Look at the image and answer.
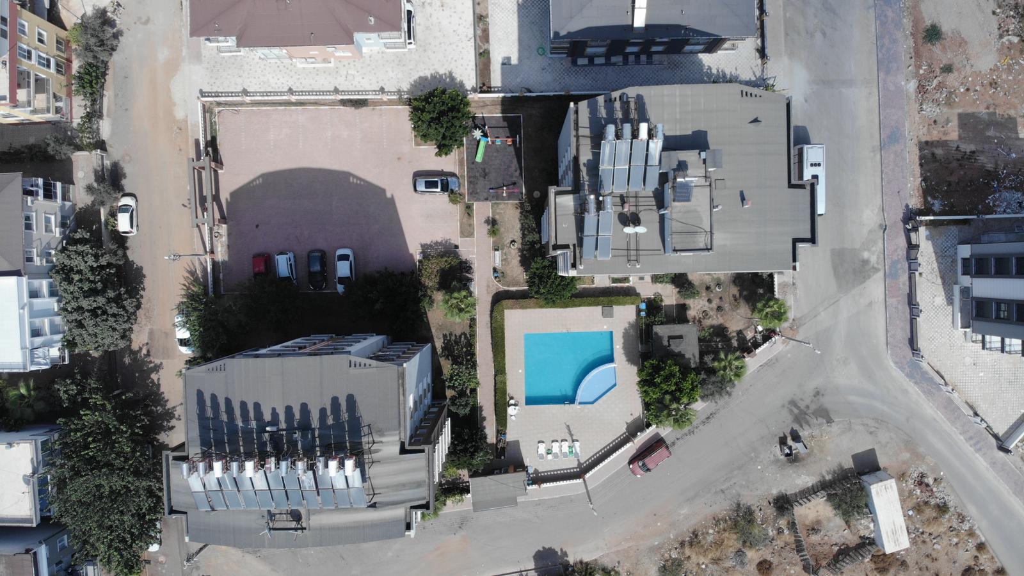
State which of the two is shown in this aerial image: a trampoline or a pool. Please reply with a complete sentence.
The one in the frame is a pool.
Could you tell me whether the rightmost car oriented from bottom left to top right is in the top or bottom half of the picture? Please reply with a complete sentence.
It is in the bottom half that the rightmost car oriented from bottom left to top right appears.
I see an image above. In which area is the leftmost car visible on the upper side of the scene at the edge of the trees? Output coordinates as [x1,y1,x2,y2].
[114,193,140,234]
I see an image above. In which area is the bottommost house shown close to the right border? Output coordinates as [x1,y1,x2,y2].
[953,241,1024,356]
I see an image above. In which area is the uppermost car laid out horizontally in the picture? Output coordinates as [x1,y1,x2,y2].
[412,173,458,196]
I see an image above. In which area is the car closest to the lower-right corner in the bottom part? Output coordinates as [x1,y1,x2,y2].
[626,440,673,478]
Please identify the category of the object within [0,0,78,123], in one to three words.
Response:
house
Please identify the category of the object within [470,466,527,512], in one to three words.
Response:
building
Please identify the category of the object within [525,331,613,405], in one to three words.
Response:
swimming pool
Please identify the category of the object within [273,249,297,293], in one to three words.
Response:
car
